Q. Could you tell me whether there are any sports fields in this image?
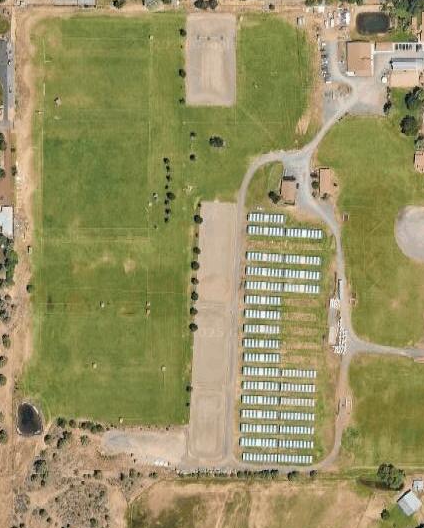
Yes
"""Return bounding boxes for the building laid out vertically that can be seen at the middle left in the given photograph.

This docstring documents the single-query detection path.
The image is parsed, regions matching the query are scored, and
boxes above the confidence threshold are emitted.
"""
[0,206,13,238]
